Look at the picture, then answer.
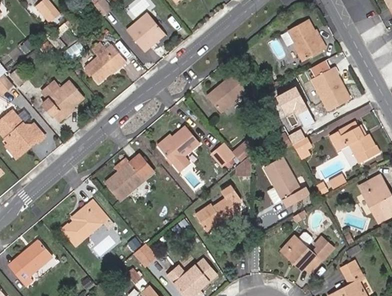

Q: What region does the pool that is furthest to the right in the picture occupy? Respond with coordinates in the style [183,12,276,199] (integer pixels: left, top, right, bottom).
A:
[336,204,371,232]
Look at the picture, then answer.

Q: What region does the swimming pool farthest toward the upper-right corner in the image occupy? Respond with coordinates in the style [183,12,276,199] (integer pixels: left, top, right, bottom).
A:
[267,36,288,61]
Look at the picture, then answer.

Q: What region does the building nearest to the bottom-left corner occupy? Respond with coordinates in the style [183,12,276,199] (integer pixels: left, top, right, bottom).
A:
[10,240,58,284]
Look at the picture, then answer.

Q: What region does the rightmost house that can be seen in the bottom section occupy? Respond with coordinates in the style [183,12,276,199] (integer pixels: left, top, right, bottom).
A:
[358,173,392,224]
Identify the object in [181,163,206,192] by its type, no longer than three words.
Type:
swimming pool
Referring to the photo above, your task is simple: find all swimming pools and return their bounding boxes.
[336,204,371,232]
[181,163,206,192]
[316,154,353,182]
[308,210,332,234]
[267,36,288,61]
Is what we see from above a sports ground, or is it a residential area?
residential area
